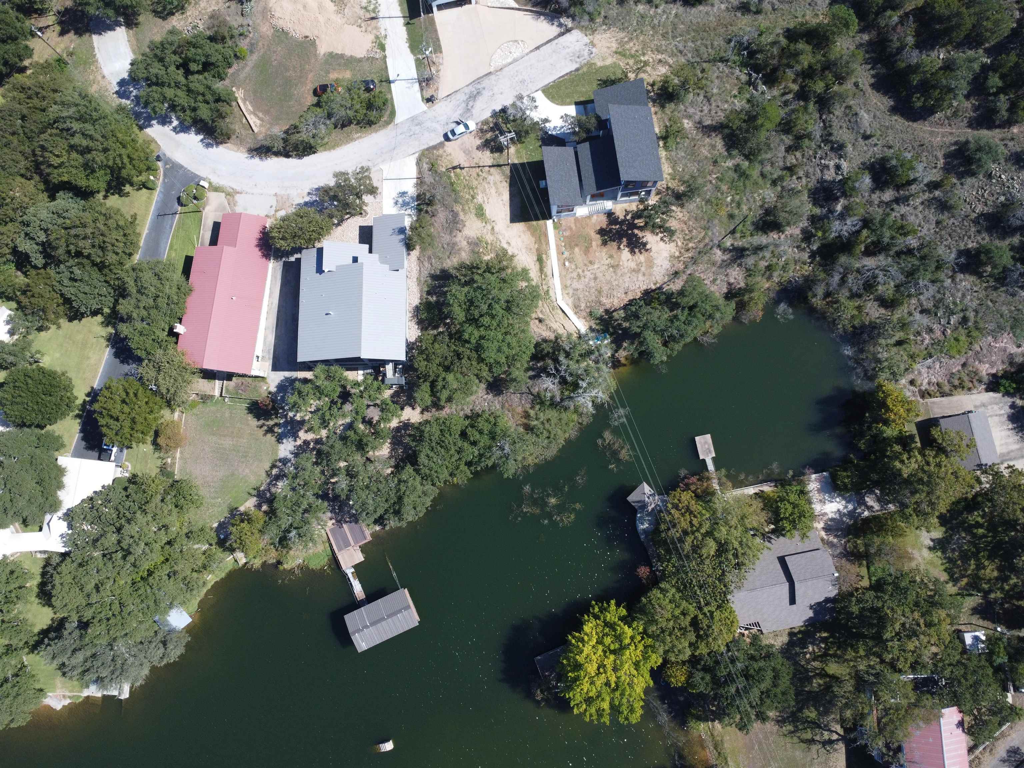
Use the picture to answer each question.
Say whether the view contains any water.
Yes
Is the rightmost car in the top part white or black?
white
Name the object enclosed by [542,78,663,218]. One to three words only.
house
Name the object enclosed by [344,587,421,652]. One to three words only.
building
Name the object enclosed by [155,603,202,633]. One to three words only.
shed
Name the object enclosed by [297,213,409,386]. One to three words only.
house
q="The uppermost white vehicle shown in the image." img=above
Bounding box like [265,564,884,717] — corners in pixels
[445,119,475,140]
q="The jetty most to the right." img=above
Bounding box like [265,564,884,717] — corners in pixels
[695,434,724,497]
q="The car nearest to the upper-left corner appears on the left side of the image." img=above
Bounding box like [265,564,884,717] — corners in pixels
[315,81,340,96]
